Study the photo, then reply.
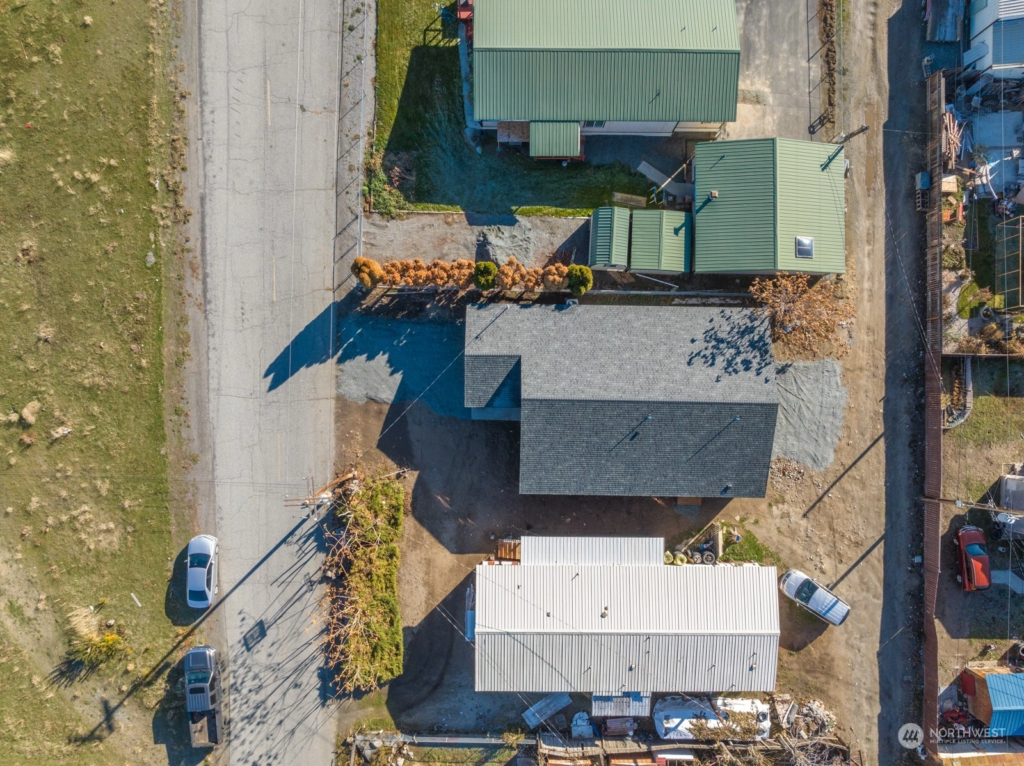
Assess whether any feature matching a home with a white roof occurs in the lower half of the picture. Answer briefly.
Yes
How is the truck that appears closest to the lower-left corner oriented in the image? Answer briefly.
vertically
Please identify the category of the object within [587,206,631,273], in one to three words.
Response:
shed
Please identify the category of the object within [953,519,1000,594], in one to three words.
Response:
car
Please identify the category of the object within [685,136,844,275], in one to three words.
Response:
building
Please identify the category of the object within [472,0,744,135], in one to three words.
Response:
house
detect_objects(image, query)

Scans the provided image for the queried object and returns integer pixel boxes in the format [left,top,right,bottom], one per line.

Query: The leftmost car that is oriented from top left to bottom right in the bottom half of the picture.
[778,567,856,631]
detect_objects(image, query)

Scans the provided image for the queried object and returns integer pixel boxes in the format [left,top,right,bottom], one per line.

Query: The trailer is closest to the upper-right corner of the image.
[915,0,968,42]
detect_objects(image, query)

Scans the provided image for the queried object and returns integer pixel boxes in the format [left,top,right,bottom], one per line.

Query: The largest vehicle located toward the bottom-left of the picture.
[179,643,223,747]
